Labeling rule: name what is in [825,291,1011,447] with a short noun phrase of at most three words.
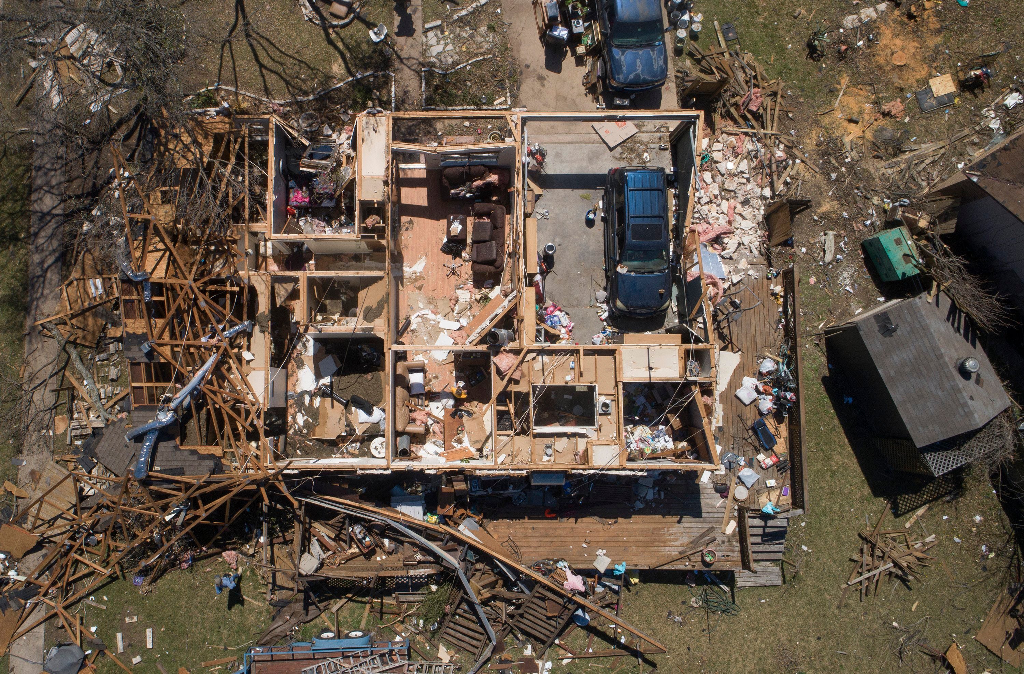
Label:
shed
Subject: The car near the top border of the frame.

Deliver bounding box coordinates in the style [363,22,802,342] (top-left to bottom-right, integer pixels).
[606,0,673,98]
